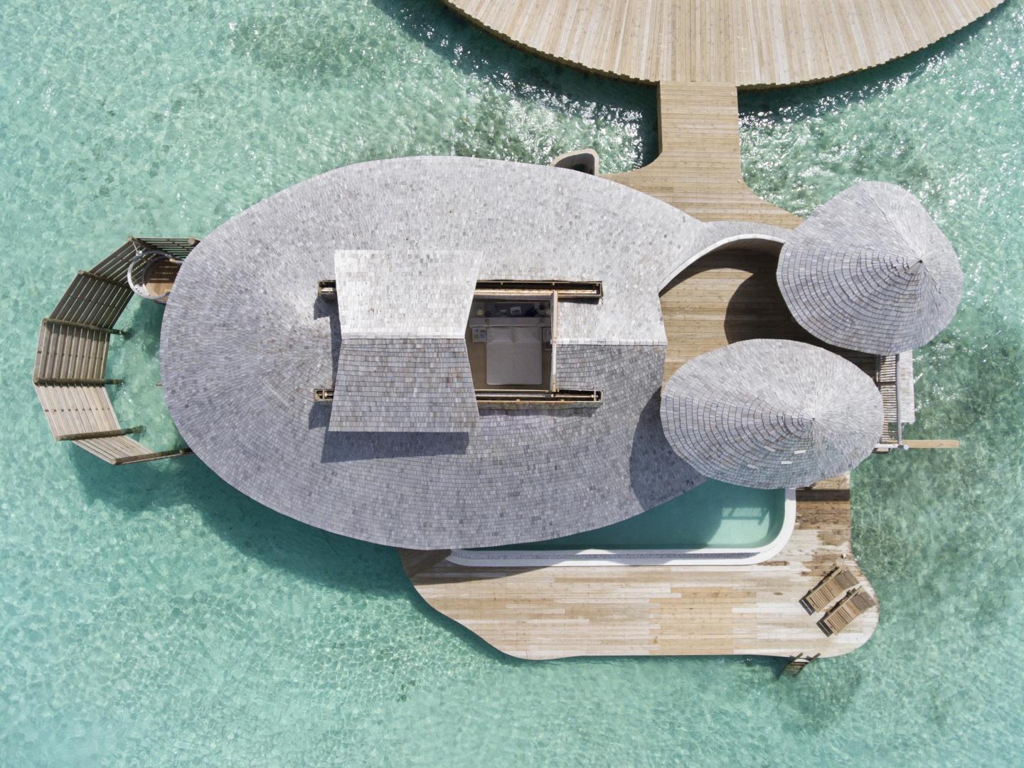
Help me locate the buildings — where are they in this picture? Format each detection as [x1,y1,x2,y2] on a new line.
[159,155,706,550]
[775,179,964,356]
